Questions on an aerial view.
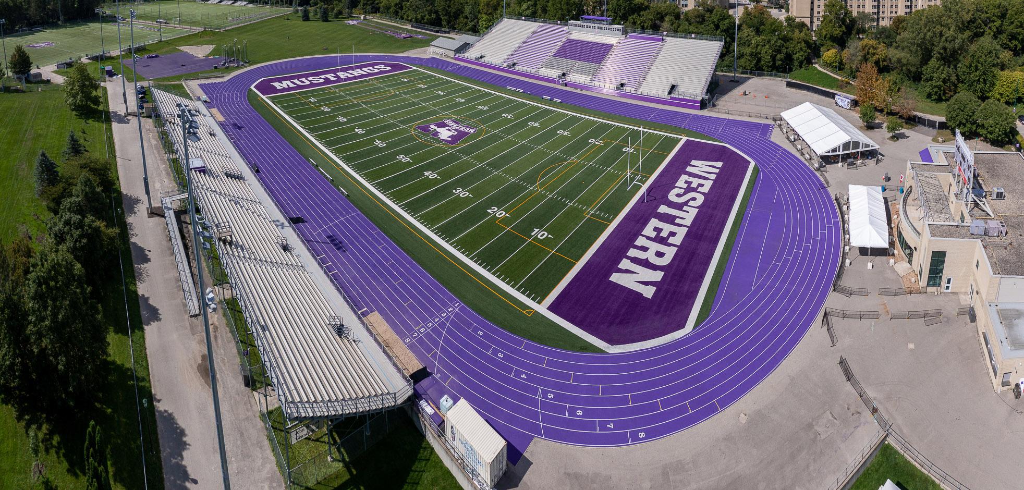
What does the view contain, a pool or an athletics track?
athletics track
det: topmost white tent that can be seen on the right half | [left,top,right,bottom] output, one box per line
[779,102,880,169]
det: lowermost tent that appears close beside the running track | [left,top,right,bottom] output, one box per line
[845,177,893,262]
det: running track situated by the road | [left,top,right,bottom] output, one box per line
[217,54,842,445]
